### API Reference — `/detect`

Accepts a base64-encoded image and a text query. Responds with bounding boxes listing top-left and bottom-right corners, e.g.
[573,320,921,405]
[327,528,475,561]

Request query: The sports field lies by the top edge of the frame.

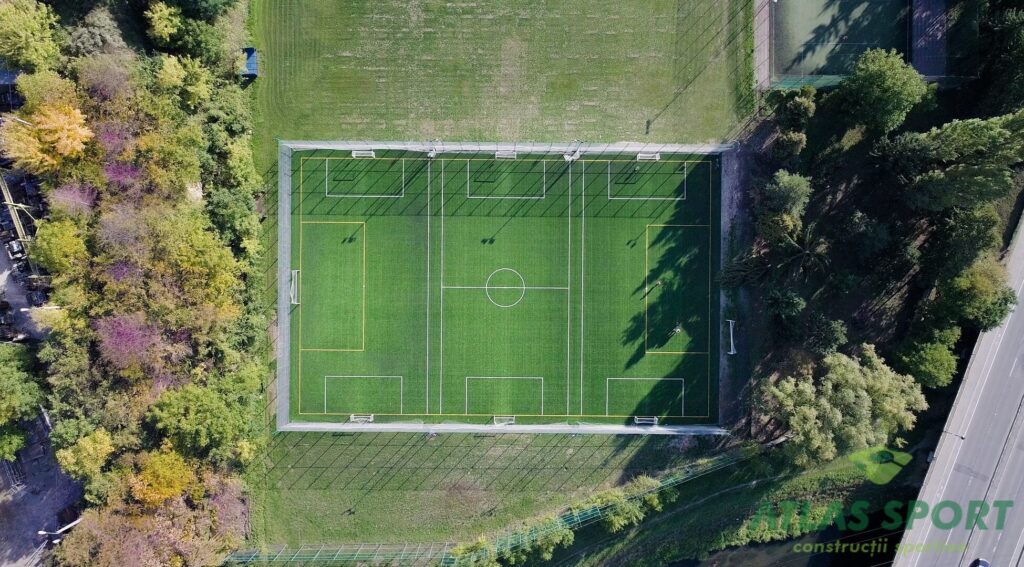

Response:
[256,0,744,139]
